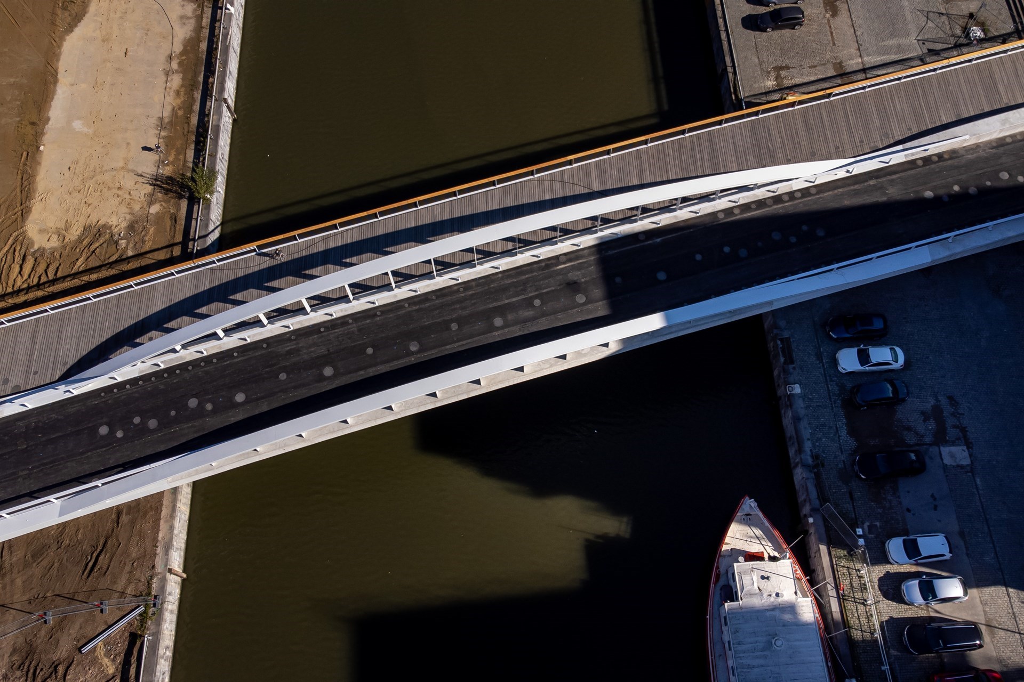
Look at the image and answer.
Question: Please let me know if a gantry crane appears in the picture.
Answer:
No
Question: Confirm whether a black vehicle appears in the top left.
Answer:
No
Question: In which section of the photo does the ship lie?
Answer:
bottom right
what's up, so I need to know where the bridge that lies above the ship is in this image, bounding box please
[0,41,1024,545]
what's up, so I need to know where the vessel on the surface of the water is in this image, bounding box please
[704,496,836,682]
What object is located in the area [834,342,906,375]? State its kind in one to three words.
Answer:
car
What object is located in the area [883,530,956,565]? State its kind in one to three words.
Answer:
car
